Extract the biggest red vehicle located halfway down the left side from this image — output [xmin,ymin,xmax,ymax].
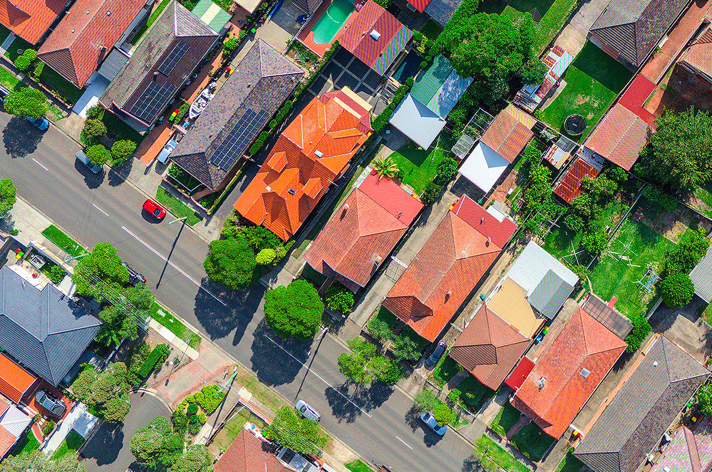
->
[140,196,169,221]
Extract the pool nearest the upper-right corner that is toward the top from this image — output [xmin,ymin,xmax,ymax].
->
[387,45,426,87]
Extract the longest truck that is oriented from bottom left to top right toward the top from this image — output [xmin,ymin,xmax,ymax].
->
[151,134,183,170]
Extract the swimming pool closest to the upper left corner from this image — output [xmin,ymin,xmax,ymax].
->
[310,0,357,47]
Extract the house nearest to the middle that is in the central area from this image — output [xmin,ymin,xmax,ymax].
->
[303,165,425,293]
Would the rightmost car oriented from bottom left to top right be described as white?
No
